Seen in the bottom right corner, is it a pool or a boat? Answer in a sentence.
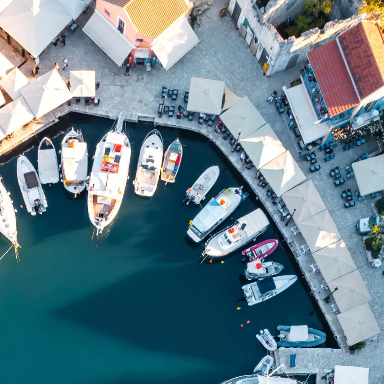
The one visible in the bottom right corner is a boat.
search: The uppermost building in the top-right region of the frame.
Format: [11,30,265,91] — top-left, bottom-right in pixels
[224,0,364,72]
